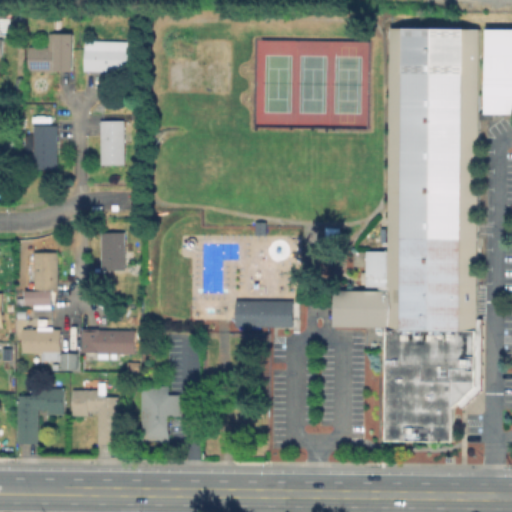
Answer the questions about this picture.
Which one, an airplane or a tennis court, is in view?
tennis court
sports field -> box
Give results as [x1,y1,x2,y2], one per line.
[160,99,382,219]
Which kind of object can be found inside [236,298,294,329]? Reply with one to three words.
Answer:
building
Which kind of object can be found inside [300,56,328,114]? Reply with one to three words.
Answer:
tennis court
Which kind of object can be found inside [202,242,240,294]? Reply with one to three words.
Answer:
swimming pool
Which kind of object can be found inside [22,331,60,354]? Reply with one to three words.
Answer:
house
